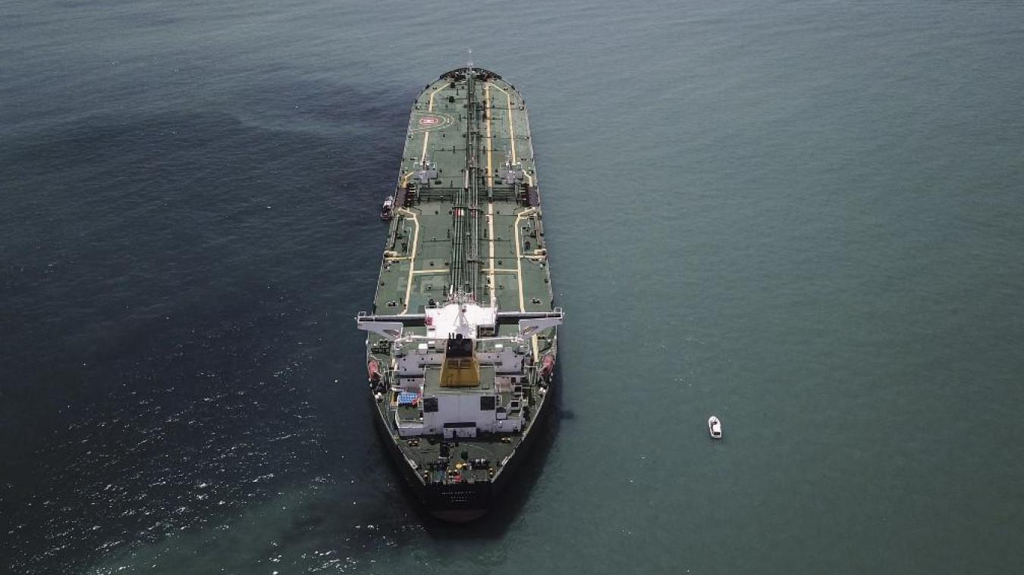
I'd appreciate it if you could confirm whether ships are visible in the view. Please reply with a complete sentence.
Yes, a ship is visible in the scene.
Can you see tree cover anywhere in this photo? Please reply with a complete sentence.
No, tree cover can't be seen anywhere here.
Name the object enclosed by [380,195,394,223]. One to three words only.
boat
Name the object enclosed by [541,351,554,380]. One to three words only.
boat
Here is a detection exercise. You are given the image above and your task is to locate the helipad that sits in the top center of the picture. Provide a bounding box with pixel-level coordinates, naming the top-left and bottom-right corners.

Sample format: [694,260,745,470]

[412,113,455,130]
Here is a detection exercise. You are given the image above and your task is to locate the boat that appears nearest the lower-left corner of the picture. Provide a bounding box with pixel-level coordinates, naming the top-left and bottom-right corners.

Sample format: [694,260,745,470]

[368,355,382,383]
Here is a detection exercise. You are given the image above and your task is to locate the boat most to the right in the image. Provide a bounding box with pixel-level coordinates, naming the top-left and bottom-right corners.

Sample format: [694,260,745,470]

[708,417,723,441]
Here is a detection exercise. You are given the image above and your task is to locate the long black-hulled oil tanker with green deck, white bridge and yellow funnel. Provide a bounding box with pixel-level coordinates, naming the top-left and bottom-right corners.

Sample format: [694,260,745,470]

[354,50,567,524]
